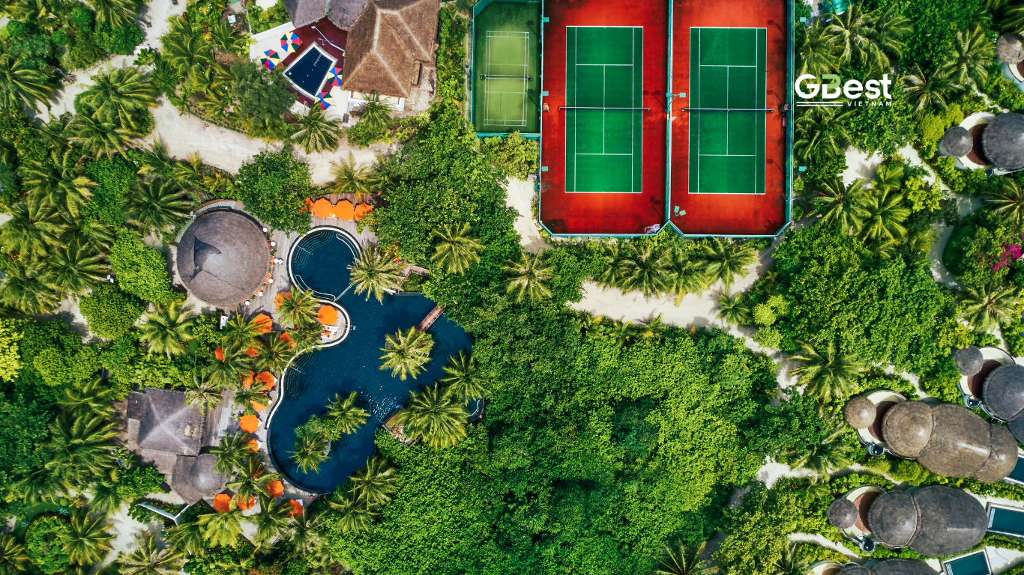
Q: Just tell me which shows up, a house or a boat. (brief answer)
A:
house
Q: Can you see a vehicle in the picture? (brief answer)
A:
No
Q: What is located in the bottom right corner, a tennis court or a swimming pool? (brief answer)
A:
swimming pool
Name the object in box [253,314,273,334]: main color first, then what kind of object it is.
orange umbrella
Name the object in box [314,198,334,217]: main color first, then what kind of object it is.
orange umbrella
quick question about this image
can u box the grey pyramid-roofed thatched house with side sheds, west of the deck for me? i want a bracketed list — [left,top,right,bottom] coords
[127,388,232,505]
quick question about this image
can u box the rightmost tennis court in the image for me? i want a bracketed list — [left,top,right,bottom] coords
[667,0,787,235]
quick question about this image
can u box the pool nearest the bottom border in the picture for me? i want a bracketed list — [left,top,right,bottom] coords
[939,548,992,575]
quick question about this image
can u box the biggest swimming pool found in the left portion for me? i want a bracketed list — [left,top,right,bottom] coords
[264,225,485,496]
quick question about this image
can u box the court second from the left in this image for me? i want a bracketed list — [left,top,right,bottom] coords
[540,0,667,233]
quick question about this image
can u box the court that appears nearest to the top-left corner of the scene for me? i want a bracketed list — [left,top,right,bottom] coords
[475,6,541,133]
